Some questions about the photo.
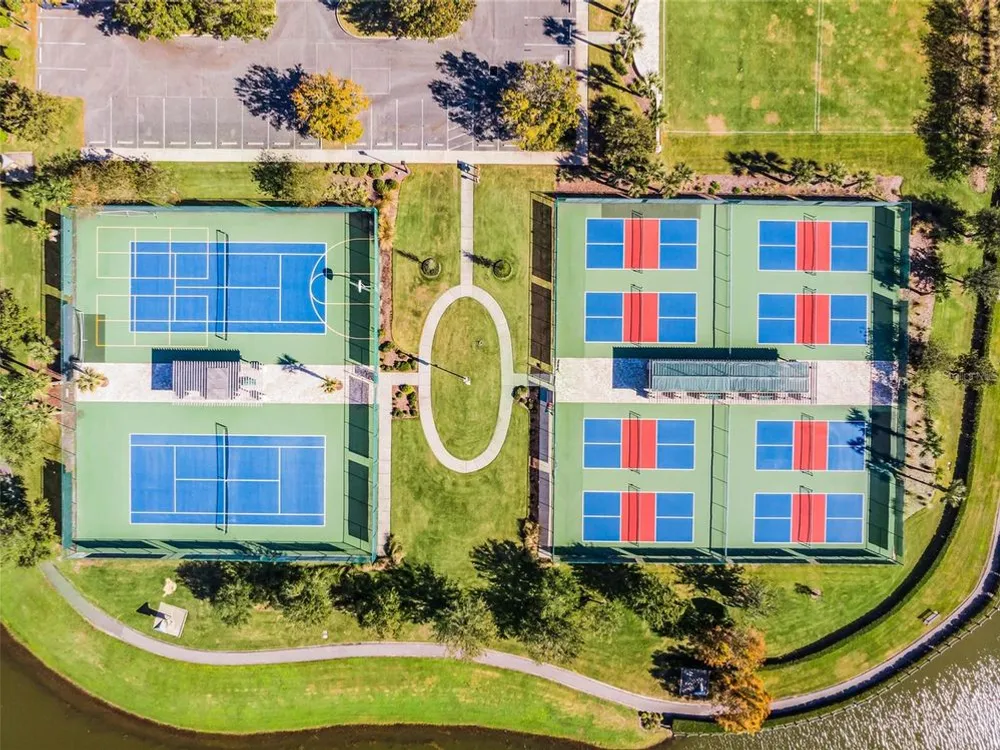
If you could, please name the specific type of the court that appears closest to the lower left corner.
tennis court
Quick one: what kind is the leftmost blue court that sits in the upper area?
tennis court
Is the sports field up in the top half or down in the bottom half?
top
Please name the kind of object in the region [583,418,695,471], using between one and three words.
sports court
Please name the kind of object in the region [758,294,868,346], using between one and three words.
sports court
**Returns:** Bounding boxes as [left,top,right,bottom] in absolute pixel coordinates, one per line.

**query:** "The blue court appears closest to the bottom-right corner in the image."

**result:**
[754,492,864,543]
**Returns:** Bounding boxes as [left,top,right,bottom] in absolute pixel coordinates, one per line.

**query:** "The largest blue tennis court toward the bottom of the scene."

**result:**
[130,434,326,526]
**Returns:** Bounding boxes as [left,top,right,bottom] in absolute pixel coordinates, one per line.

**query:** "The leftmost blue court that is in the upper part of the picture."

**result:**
[130,241,326,335]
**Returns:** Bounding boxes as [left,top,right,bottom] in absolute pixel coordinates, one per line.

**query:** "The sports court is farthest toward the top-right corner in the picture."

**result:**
[758,220,869,271]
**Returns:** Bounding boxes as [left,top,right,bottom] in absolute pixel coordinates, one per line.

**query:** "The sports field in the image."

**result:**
[663,0,924,133]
